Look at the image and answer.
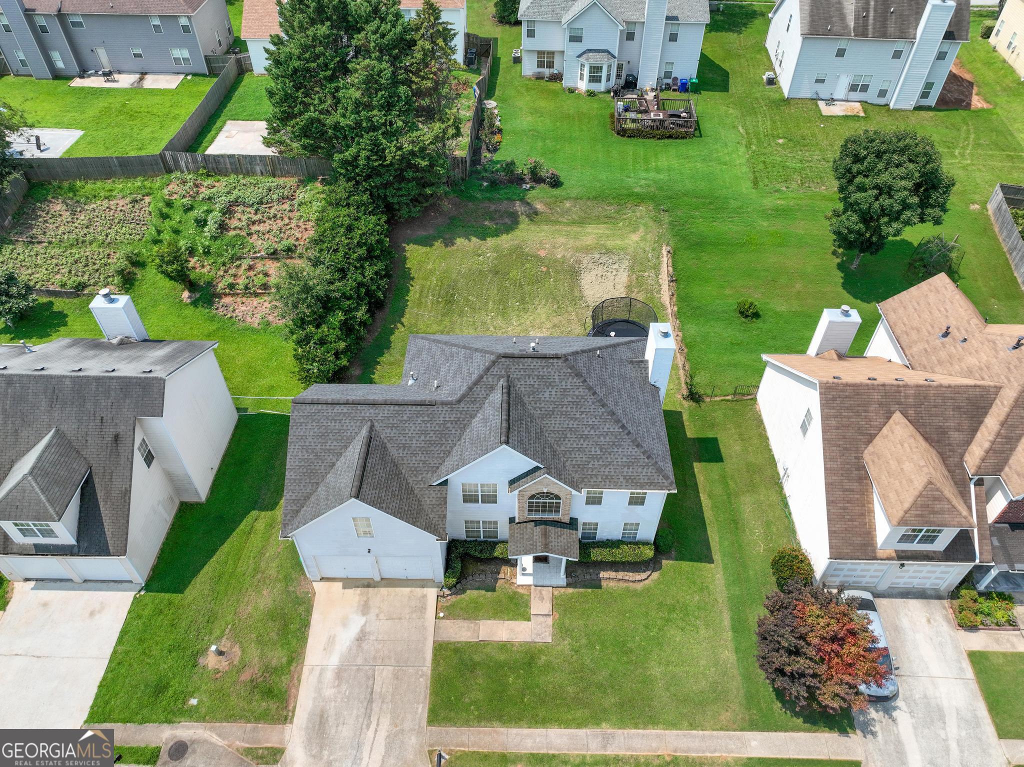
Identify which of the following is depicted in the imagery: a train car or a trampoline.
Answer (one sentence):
Looking from above, you can make out a trampoline.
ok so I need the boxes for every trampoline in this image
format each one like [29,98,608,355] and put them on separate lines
[589,299,660,338]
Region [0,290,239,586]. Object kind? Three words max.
house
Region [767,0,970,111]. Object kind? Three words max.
house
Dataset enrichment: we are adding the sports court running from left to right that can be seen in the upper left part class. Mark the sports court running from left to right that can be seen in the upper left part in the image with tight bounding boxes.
[0,129,84,159]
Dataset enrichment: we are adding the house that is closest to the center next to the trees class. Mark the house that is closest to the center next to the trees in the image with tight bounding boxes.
[282,322,679,586]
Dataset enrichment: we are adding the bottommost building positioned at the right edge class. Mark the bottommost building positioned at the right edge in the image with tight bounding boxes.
[756,273,1024,608]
